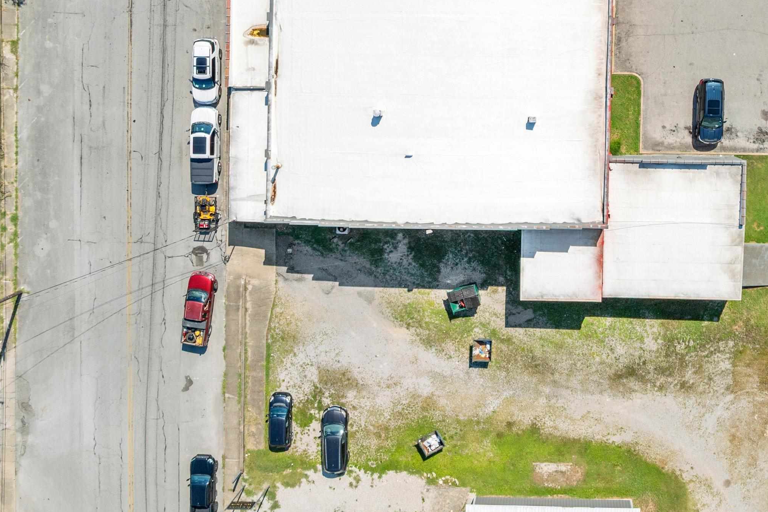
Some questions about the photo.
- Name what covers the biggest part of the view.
paved ground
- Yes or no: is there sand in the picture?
No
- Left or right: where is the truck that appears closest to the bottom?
left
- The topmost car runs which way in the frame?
up and down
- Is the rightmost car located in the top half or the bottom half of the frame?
top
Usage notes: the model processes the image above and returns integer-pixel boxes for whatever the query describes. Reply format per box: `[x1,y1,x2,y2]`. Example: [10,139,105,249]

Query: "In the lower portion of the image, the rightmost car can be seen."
[317,404,350,476]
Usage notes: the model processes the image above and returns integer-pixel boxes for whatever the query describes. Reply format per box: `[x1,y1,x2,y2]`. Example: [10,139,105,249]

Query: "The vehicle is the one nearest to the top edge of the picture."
[188,39,224,105]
